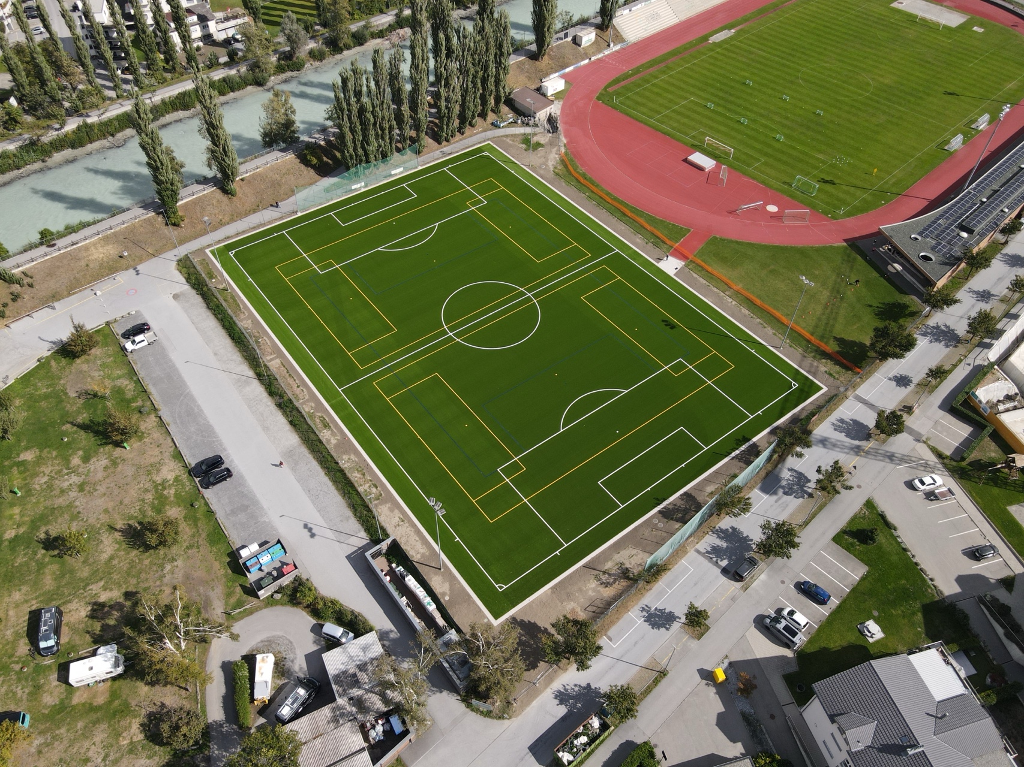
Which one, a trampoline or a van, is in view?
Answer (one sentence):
There is a van in the scene.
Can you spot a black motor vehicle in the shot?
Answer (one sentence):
Yes, this view includes a black motor vehicle.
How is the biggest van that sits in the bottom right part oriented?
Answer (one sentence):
The biggest van that sits in the bottom right part has been laid out on a diagonal relative to the frame.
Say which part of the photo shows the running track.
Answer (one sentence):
Look in the top right portion of the view to spot the running track.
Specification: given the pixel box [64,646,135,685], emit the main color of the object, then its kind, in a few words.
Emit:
white camper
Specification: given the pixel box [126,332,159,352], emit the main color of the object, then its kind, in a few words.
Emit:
white vehicle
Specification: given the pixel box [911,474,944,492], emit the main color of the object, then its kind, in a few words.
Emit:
white car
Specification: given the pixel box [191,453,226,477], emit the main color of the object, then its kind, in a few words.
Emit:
black car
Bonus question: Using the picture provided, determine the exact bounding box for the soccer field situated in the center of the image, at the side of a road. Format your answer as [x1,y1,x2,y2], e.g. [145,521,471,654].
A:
[207,142,826,619]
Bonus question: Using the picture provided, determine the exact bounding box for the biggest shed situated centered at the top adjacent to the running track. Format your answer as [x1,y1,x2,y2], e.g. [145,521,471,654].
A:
[512,85,554,123]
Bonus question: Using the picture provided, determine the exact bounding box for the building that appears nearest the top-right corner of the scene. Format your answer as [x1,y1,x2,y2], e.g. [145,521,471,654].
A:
[879,139,1024,300]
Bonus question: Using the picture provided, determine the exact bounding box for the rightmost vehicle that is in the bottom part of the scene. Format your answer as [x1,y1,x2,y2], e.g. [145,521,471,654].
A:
[970,544,1001,563]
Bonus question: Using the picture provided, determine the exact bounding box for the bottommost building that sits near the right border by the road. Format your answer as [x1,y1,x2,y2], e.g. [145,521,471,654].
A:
[799,641,1006,767]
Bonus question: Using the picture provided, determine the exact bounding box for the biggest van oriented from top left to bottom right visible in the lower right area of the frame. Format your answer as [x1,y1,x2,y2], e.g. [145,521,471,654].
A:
[763,617,805,653]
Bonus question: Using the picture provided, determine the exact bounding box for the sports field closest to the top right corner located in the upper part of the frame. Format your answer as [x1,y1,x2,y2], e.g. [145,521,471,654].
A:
[596,0,1024,220]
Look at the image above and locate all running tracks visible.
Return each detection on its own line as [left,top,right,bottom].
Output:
[558,0,1024,261]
